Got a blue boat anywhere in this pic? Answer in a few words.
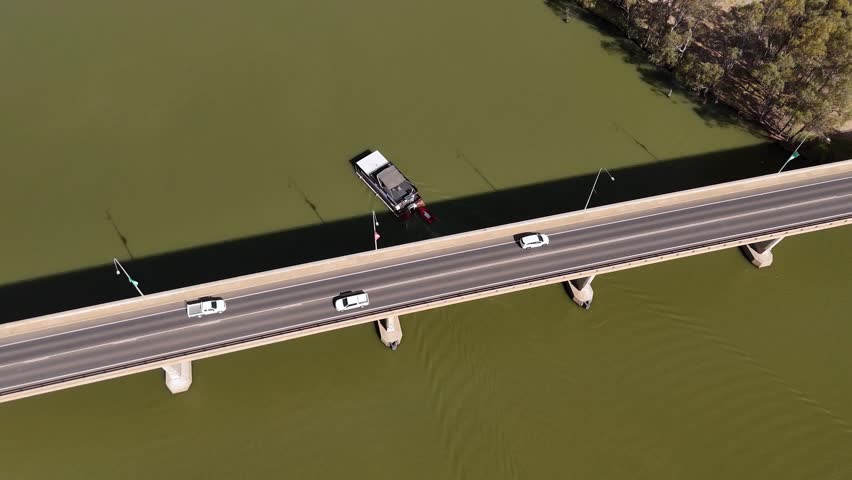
No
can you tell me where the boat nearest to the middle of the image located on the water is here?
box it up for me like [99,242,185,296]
[417,206,431,225]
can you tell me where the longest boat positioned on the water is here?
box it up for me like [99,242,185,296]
[356,151,422,220]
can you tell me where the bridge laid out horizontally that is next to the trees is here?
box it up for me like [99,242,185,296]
[0,157,852,401]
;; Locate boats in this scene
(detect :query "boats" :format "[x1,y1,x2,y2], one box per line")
[417,206,431,225]
[356,151,422,220]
